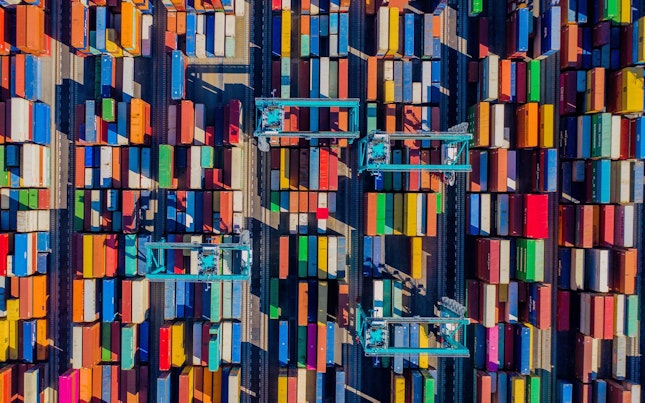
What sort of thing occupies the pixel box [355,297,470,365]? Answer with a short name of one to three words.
container crane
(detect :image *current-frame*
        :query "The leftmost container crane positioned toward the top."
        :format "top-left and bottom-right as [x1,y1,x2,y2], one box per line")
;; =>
[257,91,362,152]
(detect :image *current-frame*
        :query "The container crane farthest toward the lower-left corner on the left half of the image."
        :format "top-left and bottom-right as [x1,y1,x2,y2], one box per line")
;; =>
[145,229,255,288]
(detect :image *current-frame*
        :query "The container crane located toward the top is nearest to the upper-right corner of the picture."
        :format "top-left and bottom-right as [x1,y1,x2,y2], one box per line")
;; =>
[358,125,473,185]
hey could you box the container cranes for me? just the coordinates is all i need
[358,125,473,185]
[355,297,470,365]
[145,229,255,288]
[257,91,362,152]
